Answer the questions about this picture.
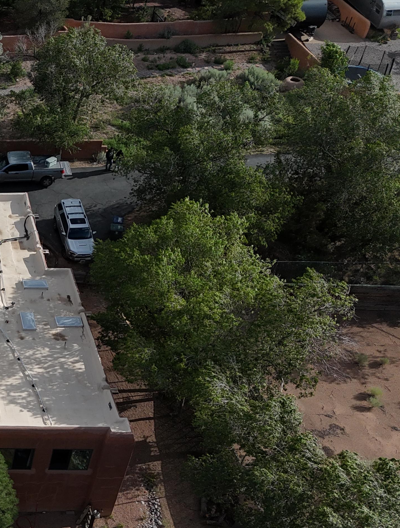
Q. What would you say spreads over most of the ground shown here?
trees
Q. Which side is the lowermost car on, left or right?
left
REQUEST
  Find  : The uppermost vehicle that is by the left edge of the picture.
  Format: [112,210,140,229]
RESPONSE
[0,148,74,187]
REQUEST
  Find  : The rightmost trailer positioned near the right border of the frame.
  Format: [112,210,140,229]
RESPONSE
[351,0,400,24]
